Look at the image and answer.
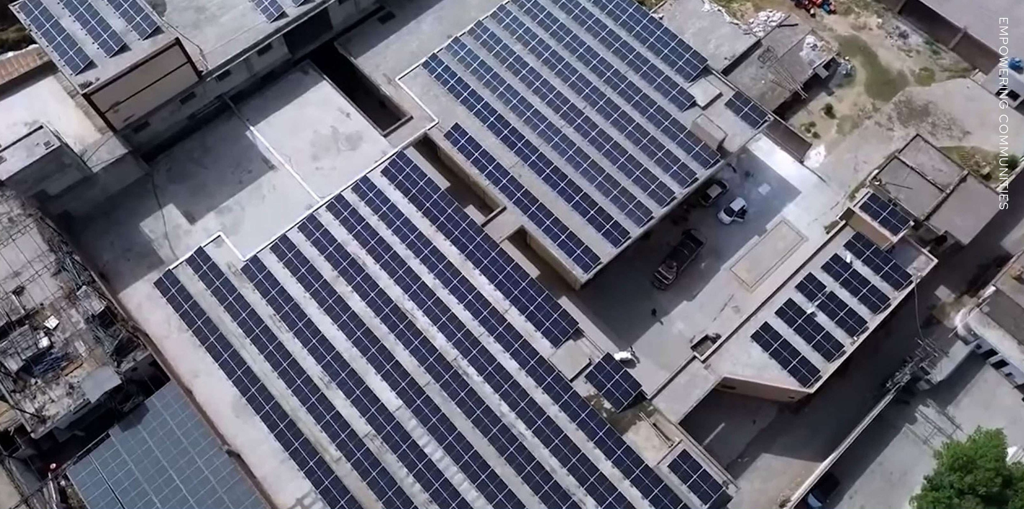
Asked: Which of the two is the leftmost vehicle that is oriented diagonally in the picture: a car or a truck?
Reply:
truck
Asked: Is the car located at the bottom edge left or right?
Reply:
right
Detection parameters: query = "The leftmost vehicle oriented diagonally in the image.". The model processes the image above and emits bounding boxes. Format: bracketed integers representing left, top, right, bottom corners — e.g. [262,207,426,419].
[644,226,710,297]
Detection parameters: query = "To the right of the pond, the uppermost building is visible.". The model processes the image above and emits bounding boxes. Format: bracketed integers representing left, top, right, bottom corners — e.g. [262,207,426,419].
[900,0,1024,78]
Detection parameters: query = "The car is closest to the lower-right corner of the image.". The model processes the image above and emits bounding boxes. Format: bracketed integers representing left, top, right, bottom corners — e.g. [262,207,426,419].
[802,473,843,509]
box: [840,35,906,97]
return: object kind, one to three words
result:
pond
